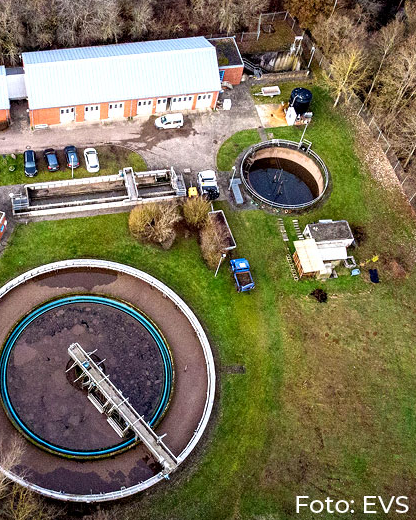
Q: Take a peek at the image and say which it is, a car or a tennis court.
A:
car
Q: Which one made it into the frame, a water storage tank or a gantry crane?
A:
water storage tank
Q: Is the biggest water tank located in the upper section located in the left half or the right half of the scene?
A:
right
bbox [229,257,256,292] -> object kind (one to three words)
truck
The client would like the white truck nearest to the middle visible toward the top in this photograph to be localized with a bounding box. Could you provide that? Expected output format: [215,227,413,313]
[195,166,221,201]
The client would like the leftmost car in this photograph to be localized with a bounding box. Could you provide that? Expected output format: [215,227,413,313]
[23,150,38,176]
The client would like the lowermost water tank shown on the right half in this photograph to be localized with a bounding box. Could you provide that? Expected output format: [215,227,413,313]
[241,137,329,210]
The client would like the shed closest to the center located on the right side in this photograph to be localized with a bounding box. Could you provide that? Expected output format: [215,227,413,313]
[290,237,330,281]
